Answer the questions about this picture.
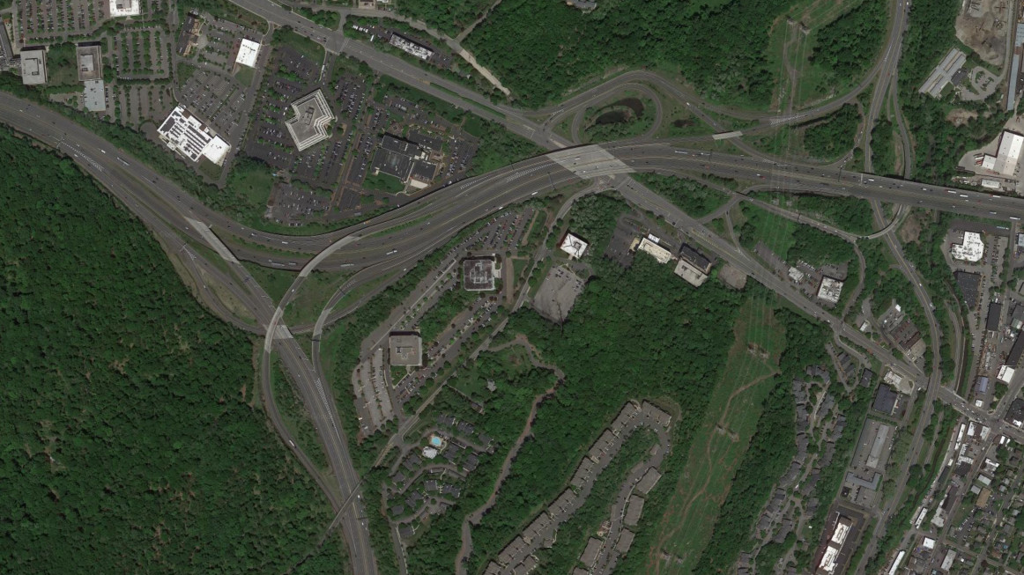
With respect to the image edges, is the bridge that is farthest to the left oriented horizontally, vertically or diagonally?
diagonally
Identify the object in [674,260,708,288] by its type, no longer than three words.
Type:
building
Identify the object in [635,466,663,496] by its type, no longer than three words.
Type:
house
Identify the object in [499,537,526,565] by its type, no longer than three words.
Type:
house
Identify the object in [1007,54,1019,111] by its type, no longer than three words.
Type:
shed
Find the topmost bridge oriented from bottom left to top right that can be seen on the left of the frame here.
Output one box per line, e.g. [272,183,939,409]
[299,231,358,276]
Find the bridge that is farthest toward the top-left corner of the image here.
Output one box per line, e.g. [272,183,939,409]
[182,213,242,268]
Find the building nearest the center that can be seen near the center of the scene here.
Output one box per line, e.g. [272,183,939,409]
[464,260,497,290]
